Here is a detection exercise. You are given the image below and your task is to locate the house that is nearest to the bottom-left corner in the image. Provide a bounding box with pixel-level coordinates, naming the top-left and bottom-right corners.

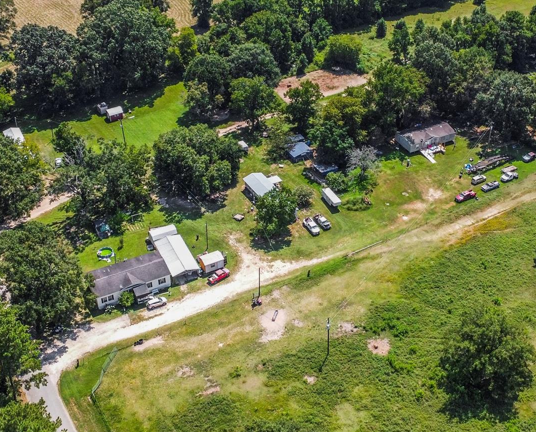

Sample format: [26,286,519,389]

[88,256,171,309]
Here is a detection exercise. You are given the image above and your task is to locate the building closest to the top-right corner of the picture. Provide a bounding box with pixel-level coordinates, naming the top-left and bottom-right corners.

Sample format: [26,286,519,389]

[397,121,457,160]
